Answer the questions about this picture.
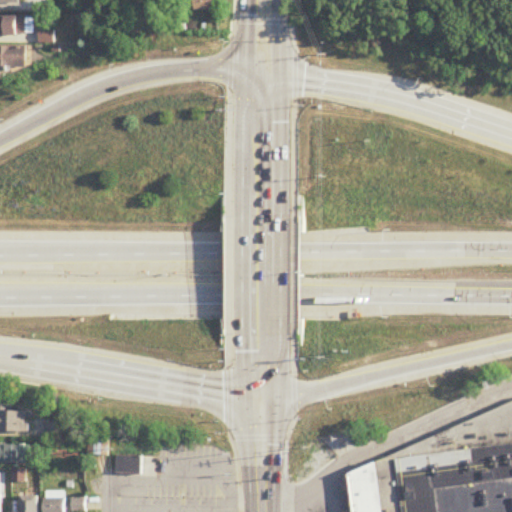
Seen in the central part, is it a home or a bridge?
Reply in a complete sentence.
What appears in the central part is a bridge.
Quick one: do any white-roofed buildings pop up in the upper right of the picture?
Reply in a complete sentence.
No, no white-roofed building can be made out in the upper right of the picture.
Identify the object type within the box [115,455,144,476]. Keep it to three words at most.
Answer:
building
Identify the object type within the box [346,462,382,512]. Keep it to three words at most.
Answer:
building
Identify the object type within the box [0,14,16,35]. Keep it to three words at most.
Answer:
house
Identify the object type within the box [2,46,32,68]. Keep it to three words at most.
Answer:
house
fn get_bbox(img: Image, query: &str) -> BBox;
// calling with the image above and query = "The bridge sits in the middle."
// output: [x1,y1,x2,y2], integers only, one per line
[221,192,305,350]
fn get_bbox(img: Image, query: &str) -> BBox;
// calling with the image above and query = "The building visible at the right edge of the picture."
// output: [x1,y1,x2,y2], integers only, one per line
[395,443,512,512]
